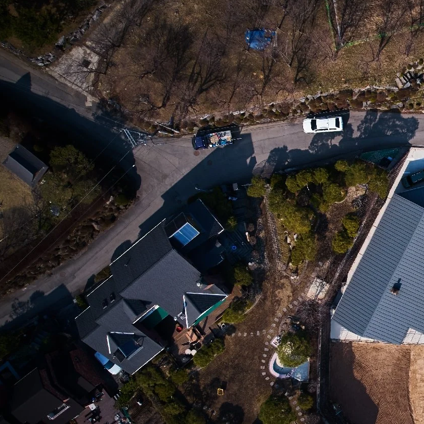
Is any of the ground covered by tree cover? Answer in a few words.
Yes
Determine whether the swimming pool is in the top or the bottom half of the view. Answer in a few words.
bottom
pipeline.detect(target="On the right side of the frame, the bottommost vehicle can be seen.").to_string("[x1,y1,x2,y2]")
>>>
[399,169,424,188]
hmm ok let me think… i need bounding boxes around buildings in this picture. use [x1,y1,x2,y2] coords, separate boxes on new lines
[0,365,95,424]
[75,219,241,375]
[331,193,424,344]
[3,145,53,186]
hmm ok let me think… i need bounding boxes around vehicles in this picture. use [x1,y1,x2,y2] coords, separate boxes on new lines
[399,169,424,188]
[302,114,342,134]
[95,350,121,381]
[190,129,233,150]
